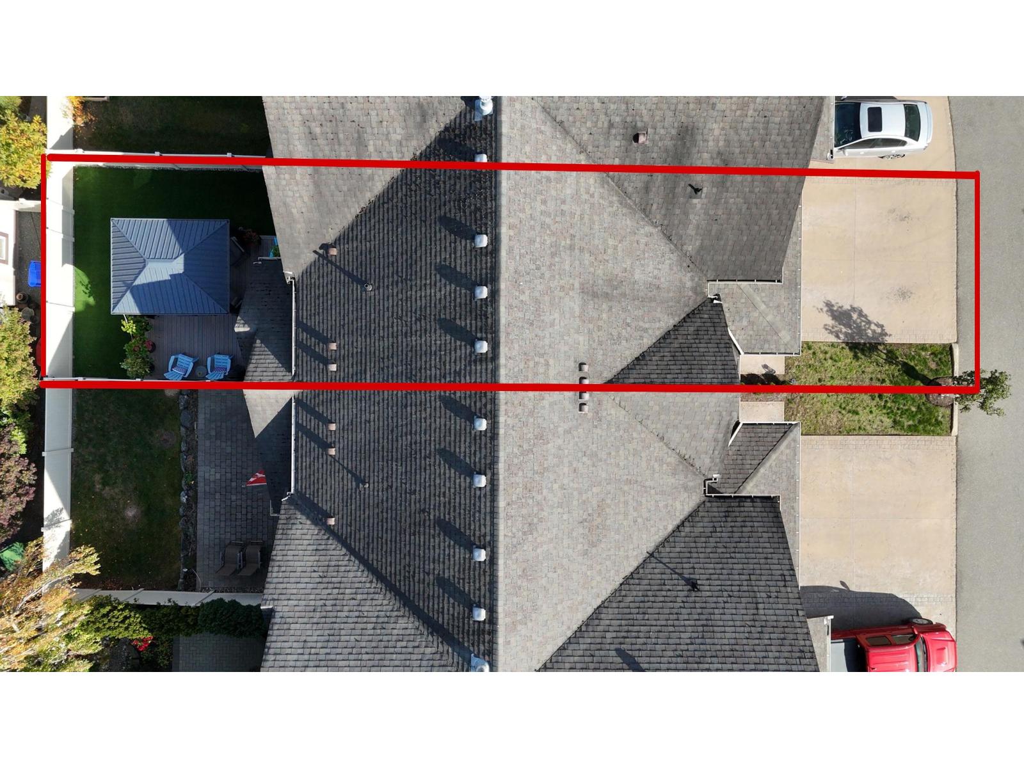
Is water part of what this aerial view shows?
No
